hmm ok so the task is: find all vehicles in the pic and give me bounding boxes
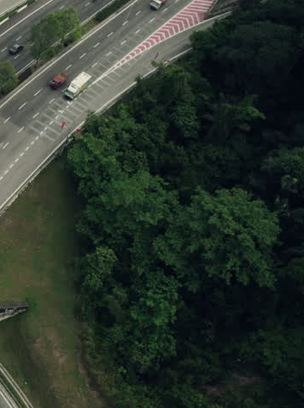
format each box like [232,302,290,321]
[64,68,93,99]
[149,0,169,12]
[5,41,26,57]
[45,71,70,90]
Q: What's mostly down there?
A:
trees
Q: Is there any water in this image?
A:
No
